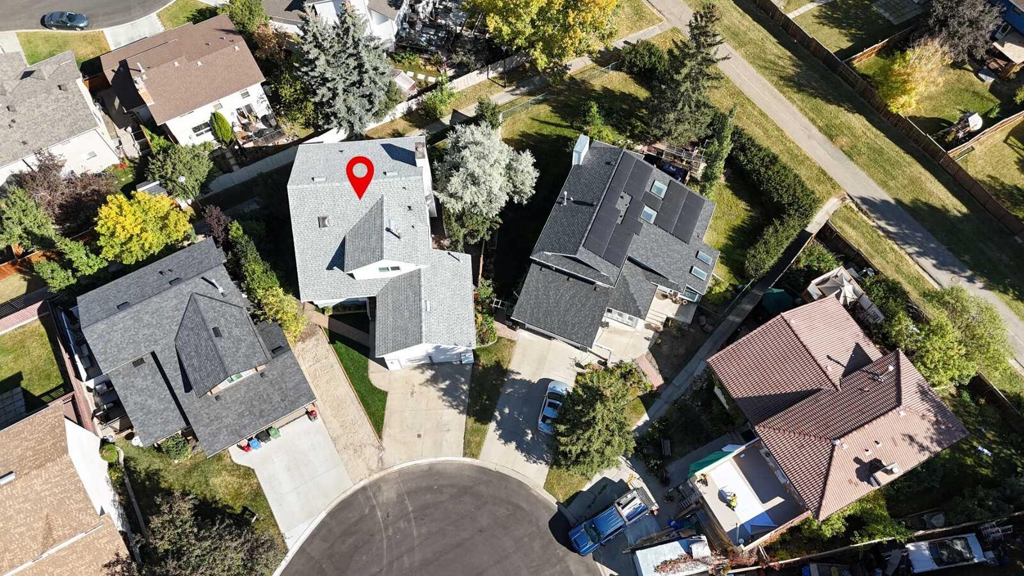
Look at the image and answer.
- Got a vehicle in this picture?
Yes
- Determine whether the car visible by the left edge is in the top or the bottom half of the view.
top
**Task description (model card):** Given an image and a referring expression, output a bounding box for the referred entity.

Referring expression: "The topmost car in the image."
[42,14,92,34]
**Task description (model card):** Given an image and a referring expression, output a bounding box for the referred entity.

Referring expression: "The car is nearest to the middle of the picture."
[533,379,572,439]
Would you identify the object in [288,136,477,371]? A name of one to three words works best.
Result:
house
